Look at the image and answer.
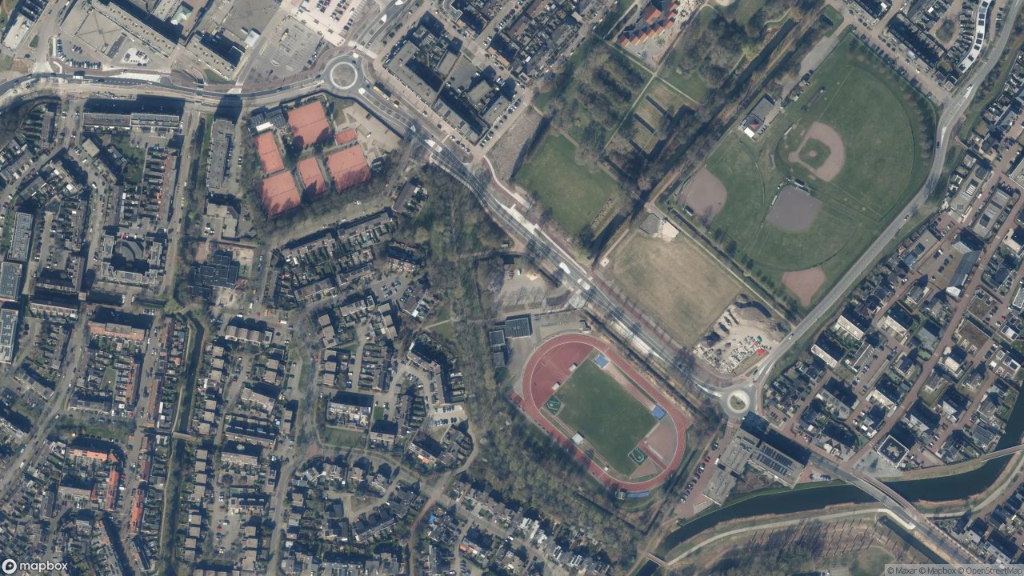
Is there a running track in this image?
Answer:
Yes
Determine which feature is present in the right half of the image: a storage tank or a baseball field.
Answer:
baseball field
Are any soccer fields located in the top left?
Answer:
No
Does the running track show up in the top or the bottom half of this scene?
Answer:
bottom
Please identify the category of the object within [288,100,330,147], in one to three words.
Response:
tennis court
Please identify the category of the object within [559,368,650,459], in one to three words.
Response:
soccer field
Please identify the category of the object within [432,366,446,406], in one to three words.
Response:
building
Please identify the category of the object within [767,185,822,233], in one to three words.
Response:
baseball field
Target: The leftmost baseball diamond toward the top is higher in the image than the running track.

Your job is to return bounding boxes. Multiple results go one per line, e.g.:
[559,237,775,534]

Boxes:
[679,168,726,221]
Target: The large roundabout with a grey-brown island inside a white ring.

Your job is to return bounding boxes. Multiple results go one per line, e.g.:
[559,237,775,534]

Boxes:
[324,56,364,96]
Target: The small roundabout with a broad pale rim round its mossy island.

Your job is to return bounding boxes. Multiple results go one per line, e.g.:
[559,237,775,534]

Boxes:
[723,386,755,418]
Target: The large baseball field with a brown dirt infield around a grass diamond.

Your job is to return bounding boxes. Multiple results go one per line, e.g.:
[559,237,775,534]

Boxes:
[788,67,913,222]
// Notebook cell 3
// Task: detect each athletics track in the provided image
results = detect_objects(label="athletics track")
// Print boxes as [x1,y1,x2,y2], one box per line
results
[514,335,696,491]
